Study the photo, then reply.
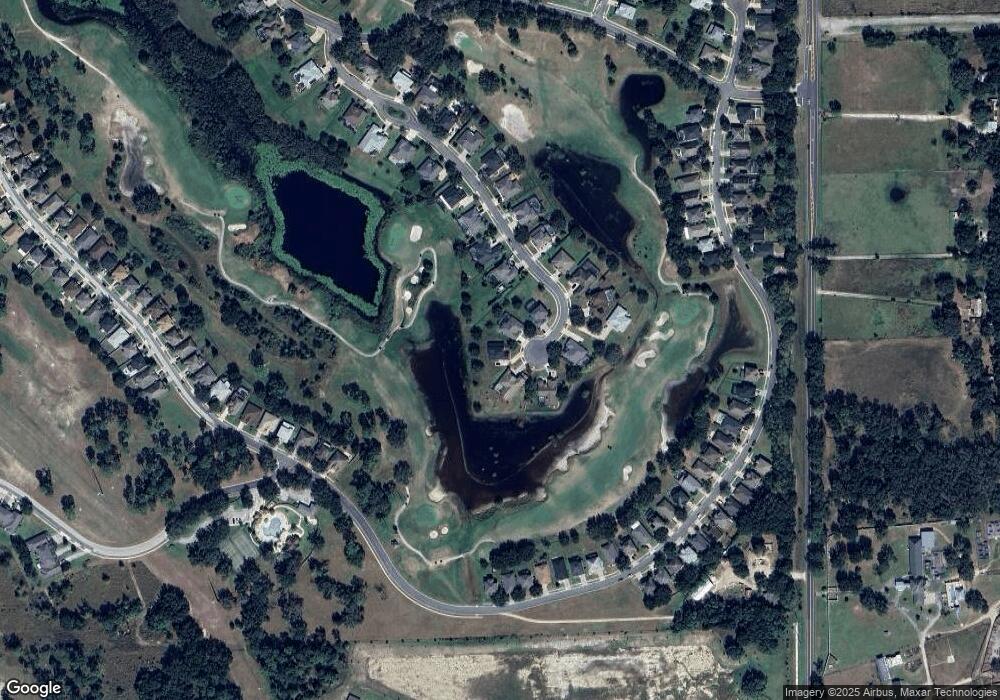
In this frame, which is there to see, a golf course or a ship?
golf course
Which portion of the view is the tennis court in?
bottom left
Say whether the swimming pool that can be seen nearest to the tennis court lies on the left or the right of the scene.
left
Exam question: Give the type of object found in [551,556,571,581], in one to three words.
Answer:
house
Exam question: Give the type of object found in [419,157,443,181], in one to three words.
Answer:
house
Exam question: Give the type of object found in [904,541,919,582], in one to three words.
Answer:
barn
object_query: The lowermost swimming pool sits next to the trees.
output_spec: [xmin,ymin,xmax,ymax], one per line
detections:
[256,512,290,553]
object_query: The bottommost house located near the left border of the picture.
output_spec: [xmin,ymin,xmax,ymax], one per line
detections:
[25,535,60,565]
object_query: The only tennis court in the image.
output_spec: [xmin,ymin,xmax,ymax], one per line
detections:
[215,528,262,574]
